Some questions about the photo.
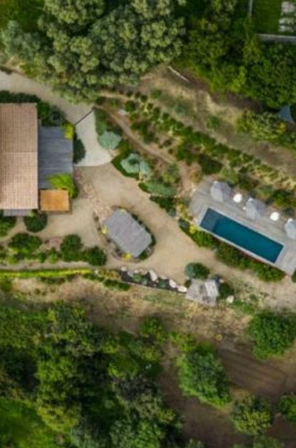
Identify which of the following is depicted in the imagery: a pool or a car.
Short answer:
pool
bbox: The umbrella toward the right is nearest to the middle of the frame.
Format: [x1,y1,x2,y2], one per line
[209,181,230,202]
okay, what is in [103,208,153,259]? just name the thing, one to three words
building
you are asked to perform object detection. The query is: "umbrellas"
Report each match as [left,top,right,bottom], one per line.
[243,198,265,218]
[281,217,296,238]
[209,181,230,202]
